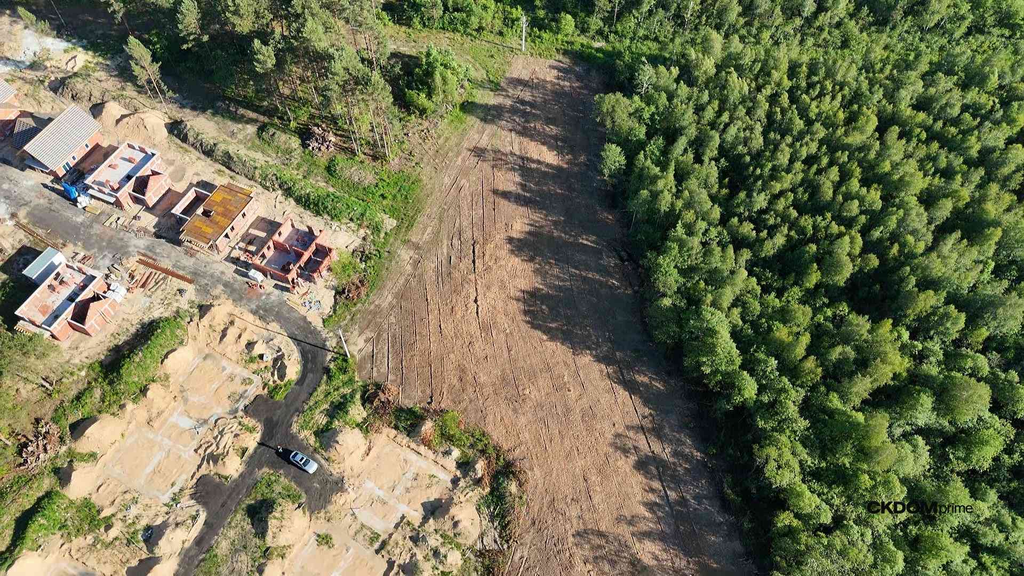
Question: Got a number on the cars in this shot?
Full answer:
There is 1 car in the image.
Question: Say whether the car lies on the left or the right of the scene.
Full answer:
The car appears in the left half of the scene.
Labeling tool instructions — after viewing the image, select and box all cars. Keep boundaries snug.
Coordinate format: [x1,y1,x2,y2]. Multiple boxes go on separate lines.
[290,449,318,475]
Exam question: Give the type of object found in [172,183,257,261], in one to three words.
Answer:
house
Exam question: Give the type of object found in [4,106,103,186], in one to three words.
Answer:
house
